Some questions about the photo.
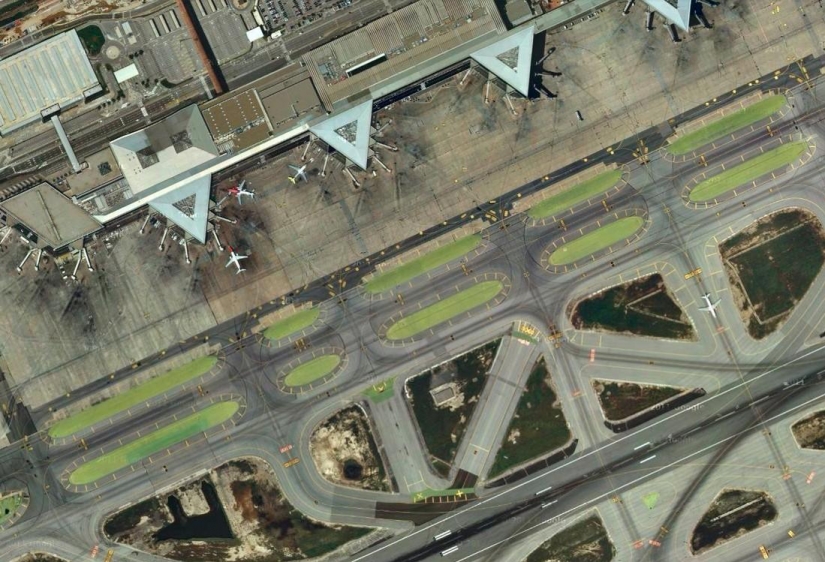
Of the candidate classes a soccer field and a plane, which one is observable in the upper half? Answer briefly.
plane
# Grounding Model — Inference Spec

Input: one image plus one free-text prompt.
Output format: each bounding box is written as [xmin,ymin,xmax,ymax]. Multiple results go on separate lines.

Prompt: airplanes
[698,292,721,318]
[225,246,247,273]
[287,164,307,185]
[228,180,254,205]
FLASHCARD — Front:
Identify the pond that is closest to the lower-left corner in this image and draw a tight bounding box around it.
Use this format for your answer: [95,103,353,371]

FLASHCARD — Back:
[154,481,234,540]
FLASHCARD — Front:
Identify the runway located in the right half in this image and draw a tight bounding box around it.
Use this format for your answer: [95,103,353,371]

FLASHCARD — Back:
[334,337,825,562]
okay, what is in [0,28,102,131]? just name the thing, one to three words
hangar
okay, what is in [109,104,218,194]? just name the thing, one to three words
building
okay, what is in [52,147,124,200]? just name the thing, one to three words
building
